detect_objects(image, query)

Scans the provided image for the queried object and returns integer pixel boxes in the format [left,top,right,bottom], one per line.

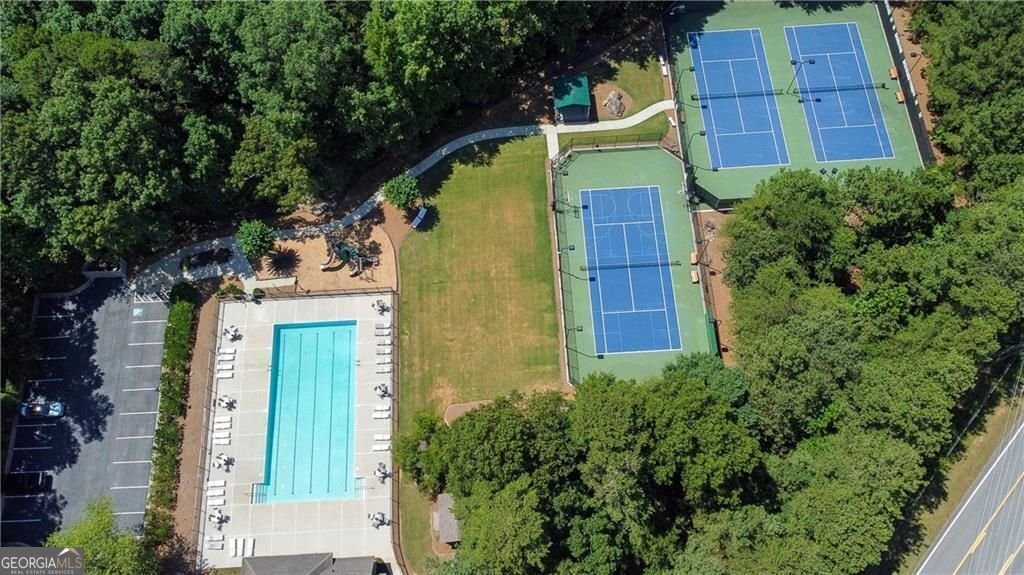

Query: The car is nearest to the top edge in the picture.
[19,400,62,419]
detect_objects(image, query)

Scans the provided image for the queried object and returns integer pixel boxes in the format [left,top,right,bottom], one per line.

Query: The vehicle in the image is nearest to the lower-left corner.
[2,471,50,492]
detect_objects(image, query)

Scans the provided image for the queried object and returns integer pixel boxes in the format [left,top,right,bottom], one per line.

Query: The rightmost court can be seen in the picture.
[770,0,924,189]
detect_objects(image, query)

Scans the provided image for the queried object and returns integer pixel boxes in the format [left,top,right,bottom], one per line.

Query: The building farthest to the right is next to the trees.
[555,75,593,123]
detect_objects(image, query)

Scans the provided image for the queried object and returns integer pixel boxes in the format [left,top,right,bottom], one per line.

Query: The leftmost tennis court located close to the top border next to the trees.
[666,0,810,192]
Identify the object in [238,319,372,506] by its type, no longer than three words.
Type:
swimming pool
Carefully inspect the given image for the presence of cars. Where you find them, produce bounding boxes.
[19,400,62,419]
[2,471,50,492]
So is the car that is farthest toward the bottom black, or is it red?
black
